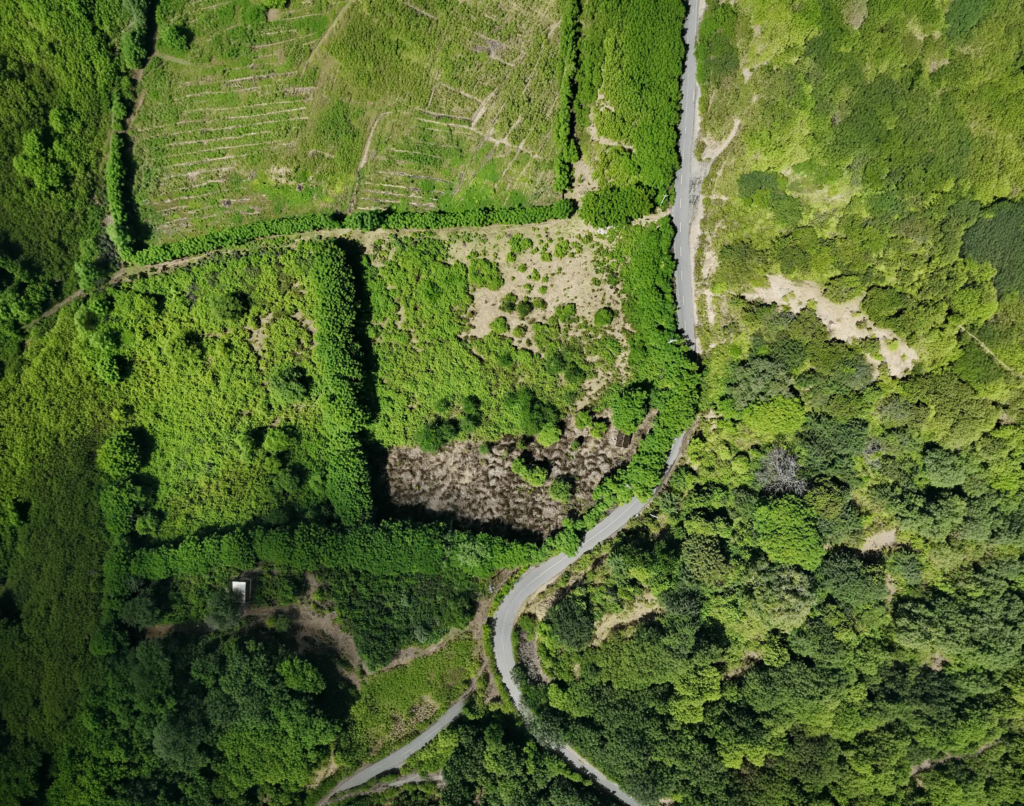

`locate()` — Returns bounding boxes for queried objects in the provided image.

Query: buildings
[614,423,630,447]
[232,577,250,603]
